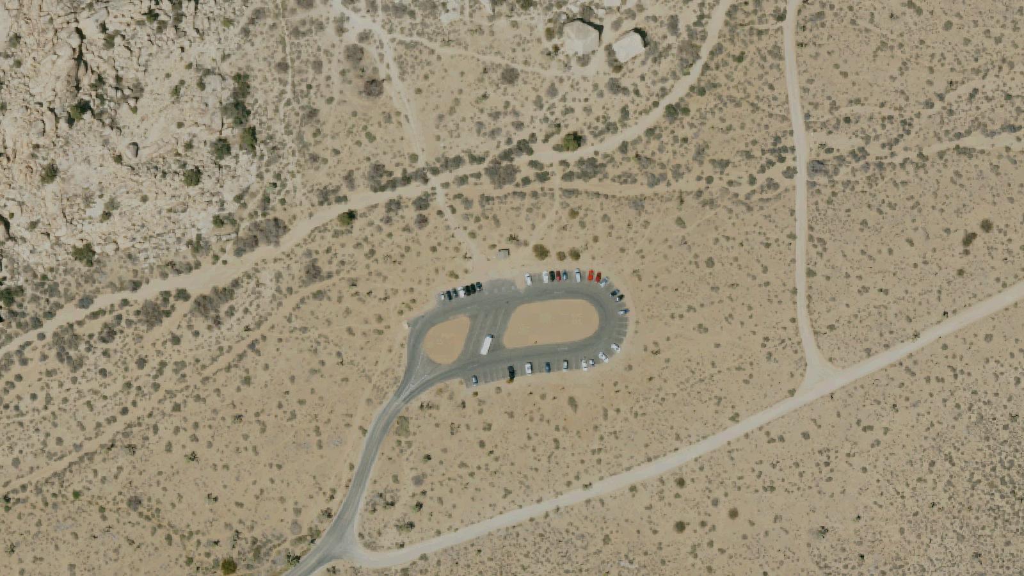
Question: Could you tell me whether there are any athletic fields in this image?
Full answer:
No, I can't see a single athletic field in this photo.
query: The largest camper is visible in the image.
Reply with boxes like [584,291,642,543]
[480,335,494,355]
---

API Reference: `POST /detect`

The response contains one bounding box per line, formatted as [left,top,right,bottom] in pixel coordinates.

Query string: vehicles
[445,290,453,301]
[451,288,459,298]
[618,308,630,314]
[543,270,548,283]
[599,276,609,287]
[545,362,550,372]
[588,269,594,281]
[609,342,620,353]
[470,283,476,294]
[563,360,568,371]
[480,335,494,355]
[556,270,561,281]
[580,359,588,372]
[589,358,594,366]
[575,268,581,283]
[595,272,602,283]
[473,375,478,385]
[525,273,532,286]
[464,285,471,296]
[458,287,465,299]
[440,291,446,301]
[526,362,532,375]
[615,294,625,302]
[610,288,620,297]
[477,282,482,291]
[550,270,555,281]
[598,351,609,363]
